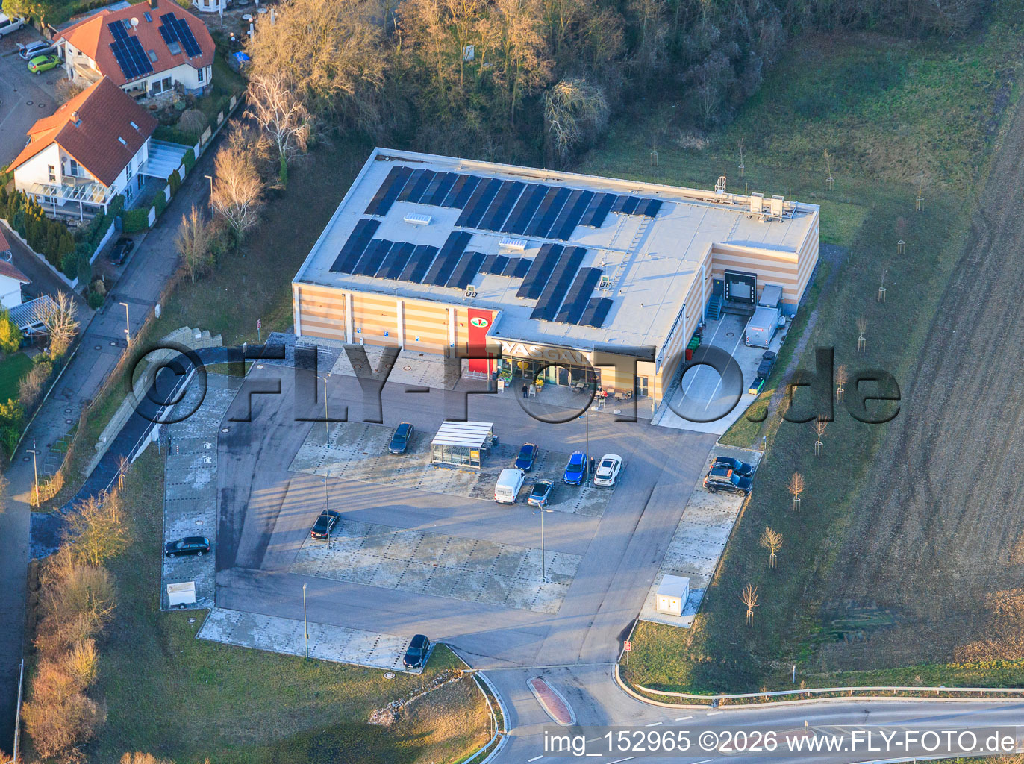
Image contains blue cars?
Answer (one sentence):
Yes, this view includes a blue car.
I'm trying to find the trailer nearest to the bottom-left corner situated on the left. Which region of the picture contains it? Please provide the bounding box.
[166,578,209,607]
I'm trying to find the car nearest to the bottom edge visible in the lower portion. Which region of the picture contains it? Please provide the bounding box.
[402,631,433,670]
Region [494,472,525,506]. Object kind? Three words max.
van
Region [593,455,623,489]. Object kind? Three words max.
car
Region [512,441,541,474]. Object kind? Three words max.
car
